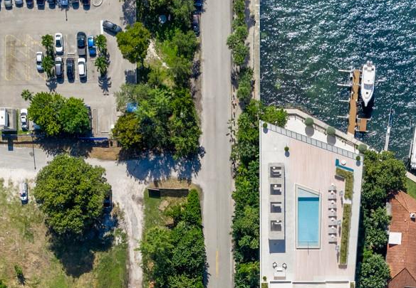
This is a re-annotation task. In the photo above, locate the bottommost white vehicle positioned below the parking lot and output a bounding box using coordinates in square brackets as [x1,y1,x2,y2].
[18,179,30,203]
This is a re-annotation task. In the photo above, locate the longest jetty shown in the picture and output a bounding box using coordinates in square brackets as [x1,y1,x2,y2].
[349,66,361,137]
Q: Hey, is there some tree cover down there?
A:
Yes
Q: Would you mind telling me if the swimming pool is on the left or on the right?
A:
right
